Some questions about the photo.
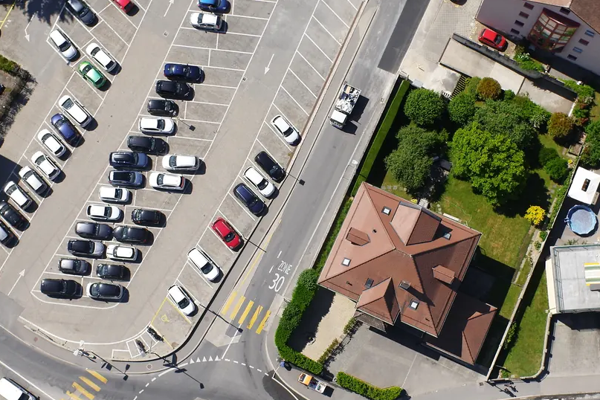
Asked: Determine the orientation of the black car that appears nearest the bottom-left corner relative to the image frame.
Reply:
from left to right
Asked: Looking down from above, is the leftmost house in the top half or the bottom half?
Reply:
bottom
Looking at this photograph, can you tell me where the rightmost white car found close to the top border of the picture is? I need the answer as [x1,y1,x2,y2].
[190,6,223,34]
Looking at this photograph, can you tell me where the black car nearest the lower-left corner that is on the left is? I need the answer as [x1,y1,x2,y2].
[38,279,83,299]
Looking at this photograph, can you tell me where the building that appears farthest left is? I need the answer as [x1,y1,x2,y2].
[317,181,498,365]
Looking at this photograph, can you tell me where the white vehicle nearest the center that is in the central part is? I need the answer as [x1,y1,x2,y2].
[241,164,274,200]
